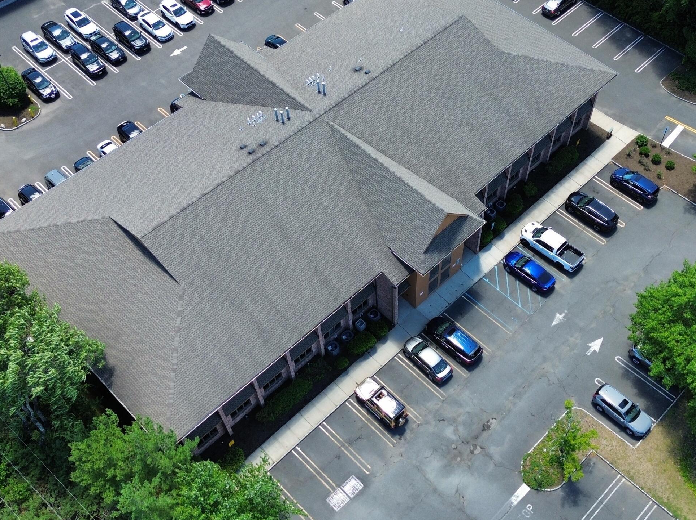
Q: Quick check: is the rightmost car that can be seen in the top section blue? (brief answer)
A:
Yes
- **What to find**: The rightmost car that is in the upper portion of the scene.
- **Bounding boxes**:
[606,164,659,203]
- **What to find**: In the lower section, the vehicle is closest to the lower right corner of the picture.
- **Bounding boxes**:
[589,386,651,441]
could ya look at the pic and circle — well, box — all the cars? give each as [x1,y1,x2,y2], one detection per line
[0,199,12,217]
[155,0,194,29]
[168,103,178,112]
[111,17,150,52]
[565,192,620,236]
[606,164,659,203]
[135,11,173,41]
[589,386,651,441]
[503,252,557,296]
[40,167,65,188]
[67,42,106,77]
[69,157,89,172]
[422,316,483,370]
[180,0,213,15]
[106,0,141,19]
[18,30,56,63]
[542,0,576,16]
[60,5,99,39]
[401,337,456,388]
[93,138,116,156]
[22,70,59,103]
[263,35,285,49]
[89,32,128,63]
[39,21,76,52]
[627,337,662,378]
[13,183,39,204]
[114,120,140,141]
